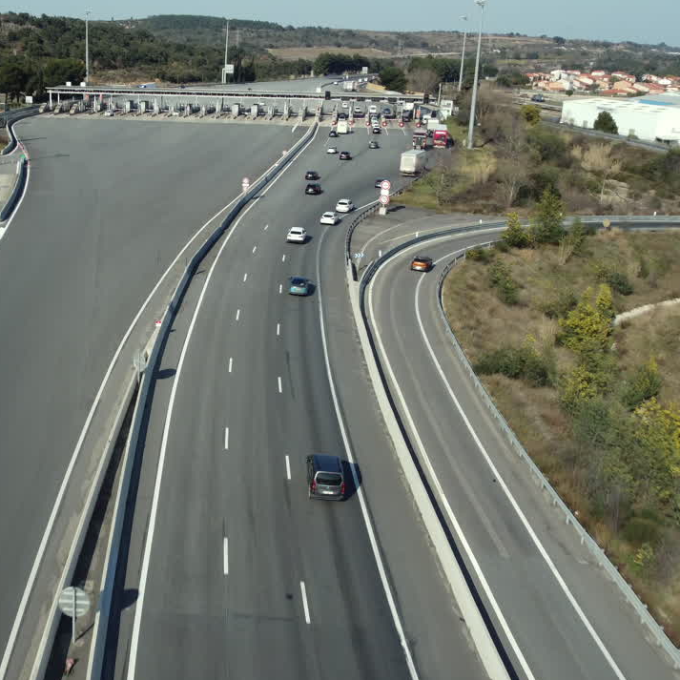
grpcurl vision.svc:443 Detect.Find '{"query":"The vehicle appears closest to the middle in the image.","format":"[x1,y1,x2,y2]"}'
[288,273,310,292]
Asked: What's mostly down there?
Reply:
paved ground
